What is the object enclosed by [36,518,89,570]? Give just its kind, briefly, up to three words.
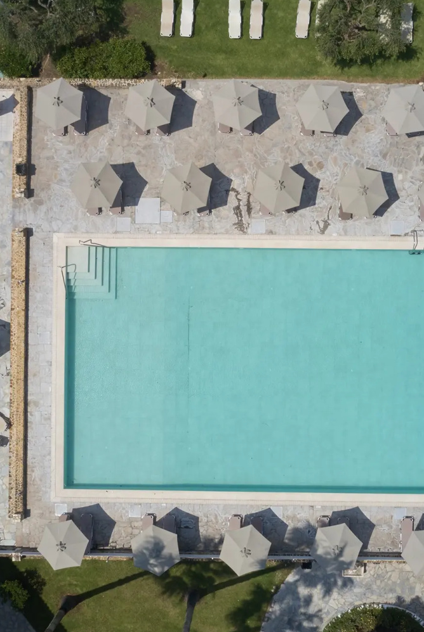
umbrella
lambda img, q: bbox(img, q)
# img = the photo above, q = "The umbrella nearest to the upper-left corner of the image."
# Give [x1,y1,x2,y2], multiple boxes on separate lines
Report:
[35,79,85,133]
